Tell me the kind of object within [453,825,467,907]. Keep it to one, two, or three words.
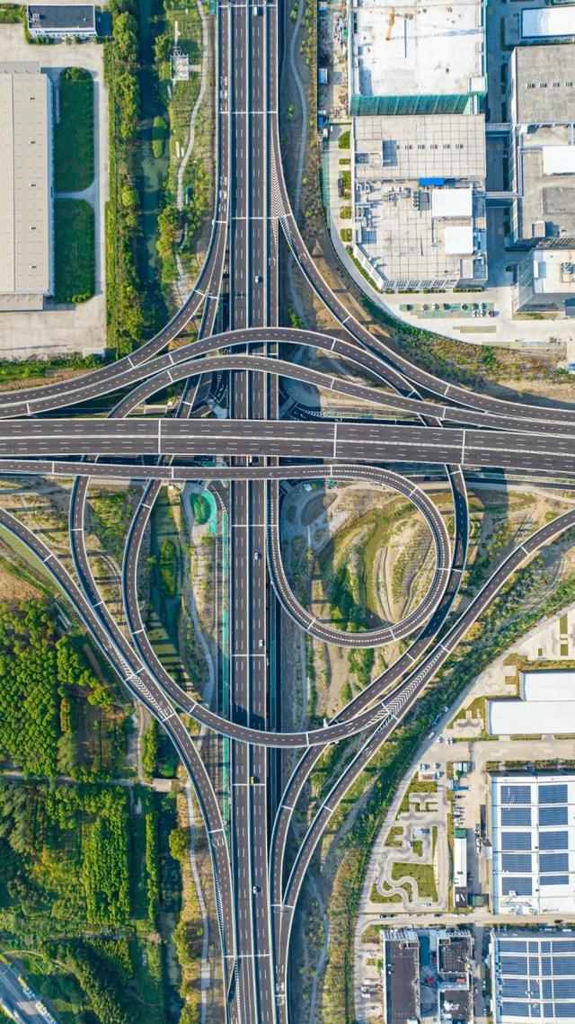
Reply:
building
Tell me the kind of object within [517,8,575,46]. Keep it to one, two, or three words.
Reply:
building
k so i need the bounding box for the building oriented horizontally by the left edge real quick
[27,4,98,38]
